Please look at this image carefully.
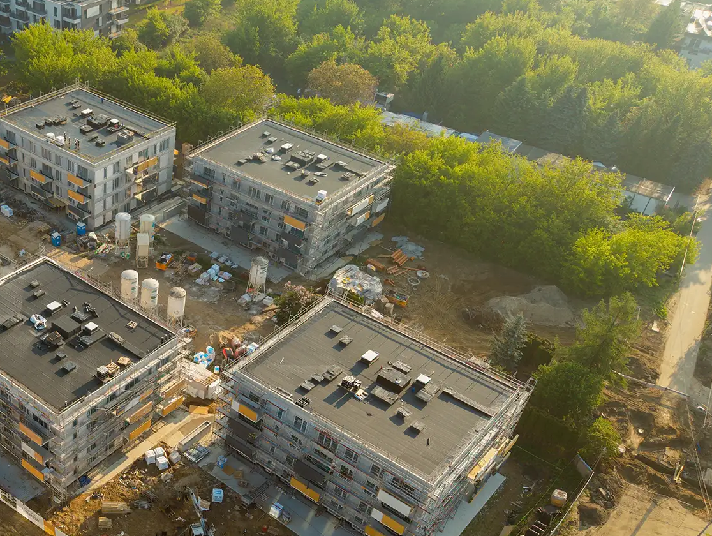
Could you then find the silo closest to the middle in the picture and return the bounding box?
[247,260,268,302]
